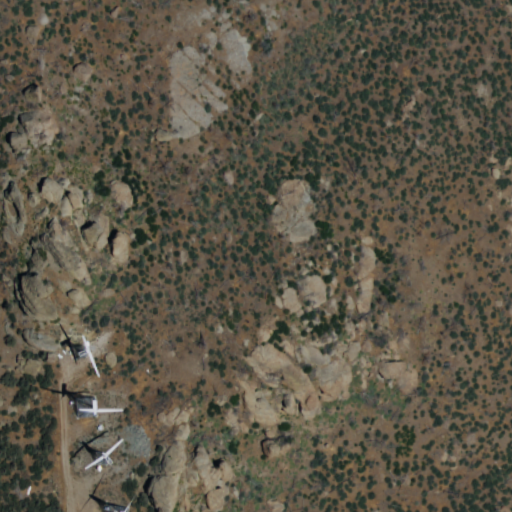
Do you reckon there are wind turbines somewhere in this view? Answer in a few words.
Yes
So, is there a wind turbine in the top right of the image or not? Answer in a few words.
No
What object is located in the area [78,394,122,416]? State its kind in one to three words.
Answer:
wind turbine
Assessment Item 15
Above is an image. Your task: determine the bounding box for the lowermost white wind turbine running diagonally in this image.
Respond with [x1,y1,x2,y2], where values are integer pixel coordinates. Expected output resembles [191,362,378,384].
[85,439,124,470]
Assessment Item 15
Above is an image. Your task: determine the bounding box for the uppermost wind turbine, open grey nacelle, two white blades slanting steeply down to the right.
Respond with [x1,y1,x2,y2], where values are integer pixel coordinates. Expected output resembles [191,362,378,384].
[76,331,99,372]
